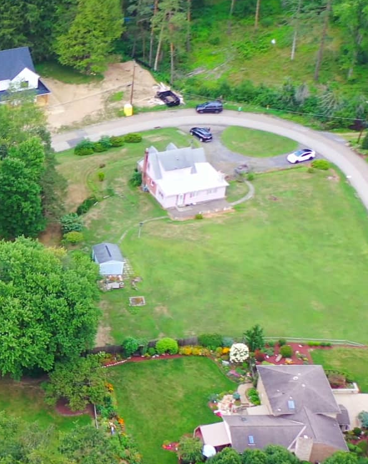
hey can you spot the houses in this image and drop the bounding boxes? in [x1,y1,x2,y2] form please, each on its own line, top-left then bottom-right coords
[199,365,359,464]
[0,48,44,106]
[126,134,231,209]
